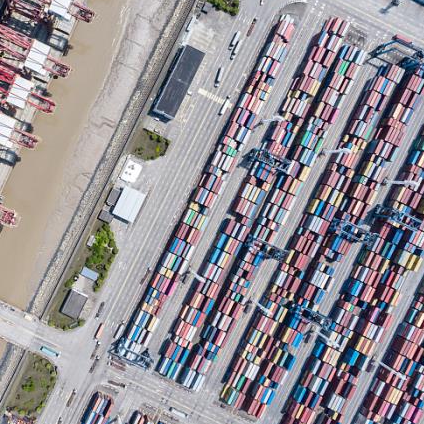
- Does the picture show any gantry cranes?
Yes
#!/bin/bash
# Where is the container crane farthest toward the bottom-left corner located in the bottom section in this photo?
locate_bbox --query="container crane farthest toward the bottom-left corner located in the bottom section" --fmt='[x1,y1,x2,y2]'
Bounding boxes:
[104,330,156,374]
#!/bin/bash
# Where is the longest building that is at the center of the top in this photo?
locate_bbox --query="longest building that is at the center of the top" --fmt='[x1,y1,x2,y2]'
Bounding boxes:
[153,44,206,118]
